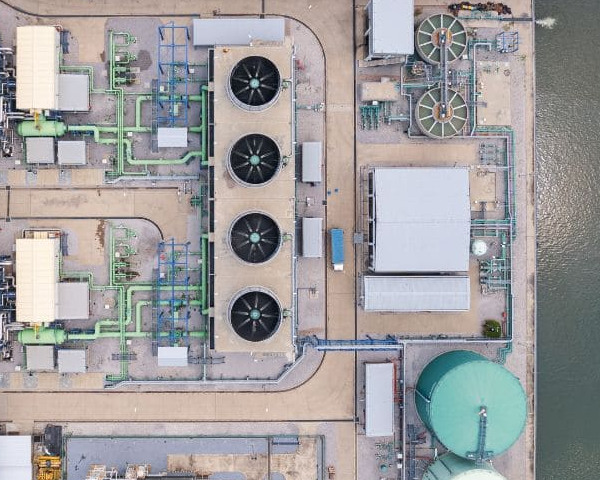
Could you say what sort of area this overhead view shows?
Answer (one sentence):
It's an industrial area.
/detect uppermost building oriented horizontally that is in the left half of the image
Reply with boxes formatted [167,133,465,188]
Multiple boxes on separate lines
[192,18,285,49]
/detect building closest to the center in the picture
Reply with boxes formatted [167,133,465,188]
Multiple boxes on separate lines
[301,218,322,258]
